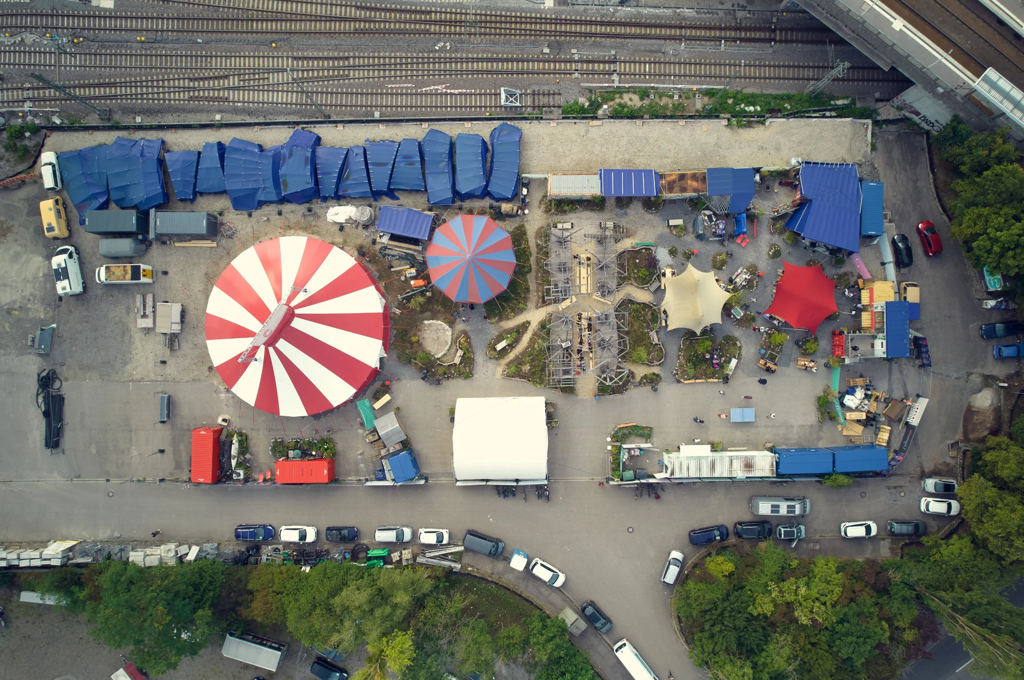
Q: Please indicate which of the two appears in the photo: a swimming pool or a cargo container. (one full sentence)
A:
Looking from above, you can make out a cargo container.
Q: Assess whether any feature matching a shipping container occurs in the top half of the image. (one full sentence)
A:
Yes, looking in the top half of the image, one can make out a shipping container.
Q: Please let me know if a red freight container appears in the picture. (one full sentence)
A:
Yes, a red freight container appears in the view.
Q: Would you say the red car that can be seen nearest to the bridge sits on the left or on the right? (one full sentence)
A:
The red car that can be seen nearest to the bridge appears in the right half of the scene.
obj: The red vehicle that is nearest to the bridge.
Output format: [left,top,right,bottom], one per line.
[915,221,943,258]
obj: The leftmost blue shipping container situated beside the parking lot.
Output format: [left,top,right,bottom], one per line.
[771,449,833,475]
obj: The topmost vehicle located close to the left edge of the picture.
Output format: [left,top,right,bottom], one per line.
[42,153,68,195]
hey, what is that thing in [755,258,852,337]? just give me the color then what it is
red tent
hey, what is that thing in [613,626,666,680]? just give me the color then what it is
white bus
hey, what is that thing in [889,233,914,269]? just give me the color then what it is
black car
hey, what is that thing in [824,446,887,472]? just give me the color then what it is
blue shipping container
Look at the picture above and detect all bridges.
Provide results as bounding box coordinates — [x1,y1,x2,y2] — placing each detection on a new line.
[781,0,1024,176]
